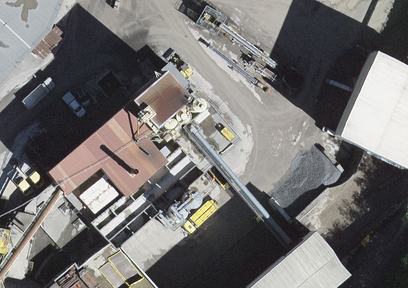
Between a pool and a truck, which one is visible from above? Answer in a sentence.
It is a truck that can be seen here.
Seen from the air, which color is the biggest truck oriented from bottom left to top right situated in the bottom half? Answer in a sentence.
From above, the biggest truck oriented from bottom left to top right situated in the bottom half appears yellow.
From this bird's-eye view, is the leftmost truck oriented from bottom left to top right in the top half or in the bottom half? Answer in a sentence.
It is in the top half that the leftmost truck oriented from bottom left to top right appears.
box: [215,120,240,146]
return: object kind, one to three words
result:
truck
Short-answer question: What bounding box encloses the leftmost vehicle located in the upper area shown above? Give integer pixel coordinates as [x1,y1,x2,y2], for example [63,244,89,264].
[21,78,56,112]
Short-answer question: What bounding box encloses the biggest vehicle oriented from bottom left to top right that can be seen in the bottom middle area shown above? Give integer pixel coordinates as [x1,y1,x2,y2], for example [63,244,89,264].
[186,199,220,232]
